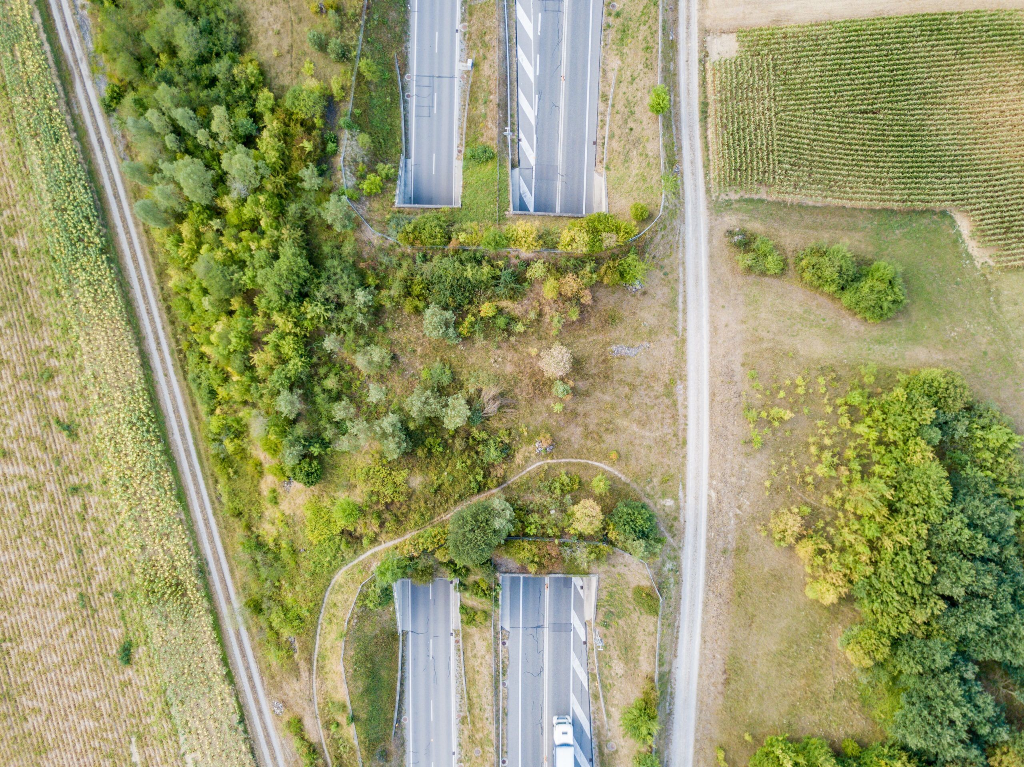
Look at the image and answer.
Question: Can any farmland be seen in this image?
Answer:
Yes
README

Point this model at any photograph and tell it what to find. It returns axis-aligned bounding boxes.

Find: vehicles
[552,713,575,767]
